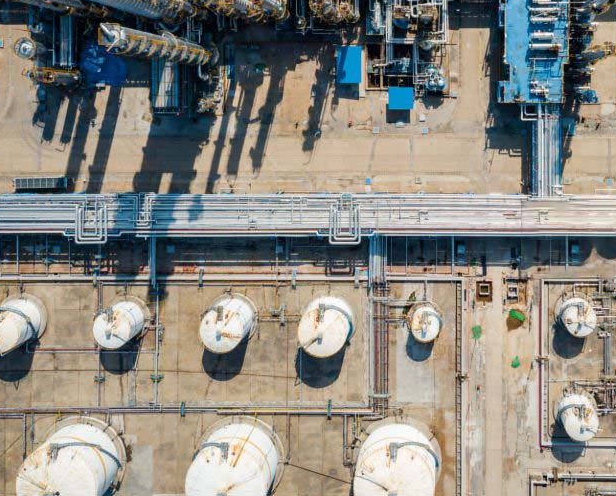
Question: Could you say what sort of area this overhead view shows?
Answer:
industrial area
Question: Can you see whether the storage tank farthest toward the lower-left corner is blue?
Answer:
No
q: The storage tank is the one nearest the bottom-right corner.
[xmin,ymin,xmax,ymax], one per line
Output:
[556,392,600,442]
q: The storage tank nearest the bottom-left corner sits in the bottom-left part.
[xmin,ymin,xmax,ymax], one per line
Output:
[14,416,126,496]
